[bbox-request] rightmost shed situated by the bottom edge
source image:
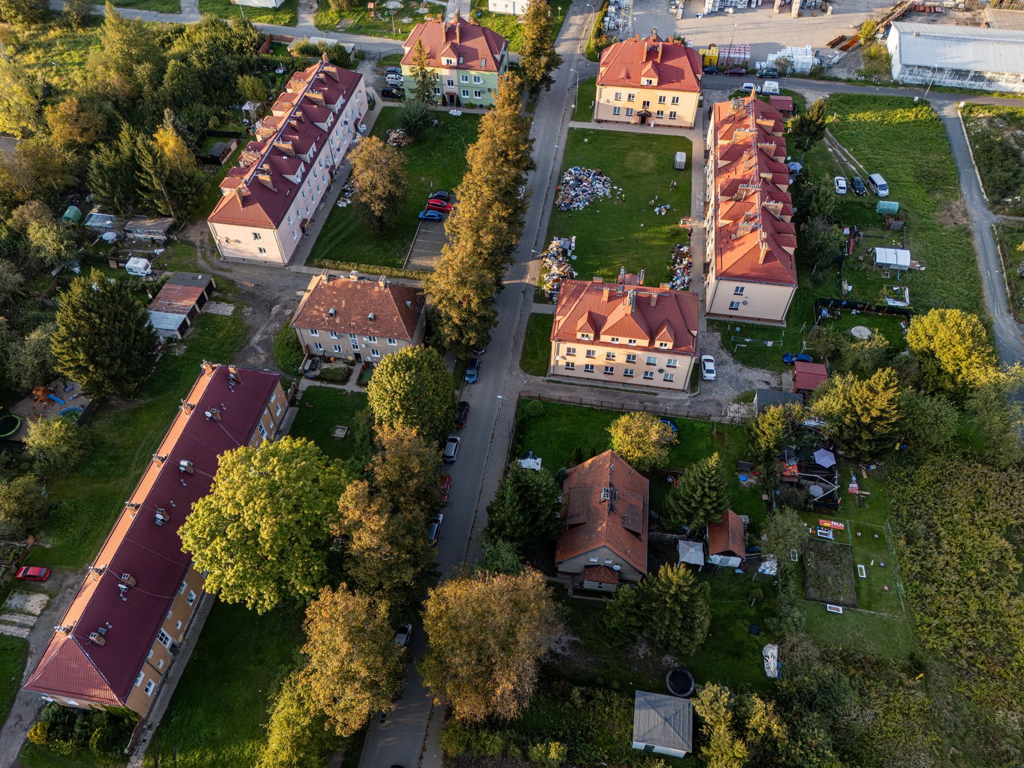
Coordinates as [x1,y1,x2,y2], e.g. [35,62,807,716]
[631,688,693,760]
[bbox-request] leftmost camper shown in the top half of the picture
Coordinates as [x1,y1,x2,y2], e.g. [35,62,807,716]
[121,255,158,276]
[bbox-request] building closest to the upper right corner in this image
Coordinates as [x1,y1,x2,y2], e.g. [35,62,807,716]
[885,28,1024,94]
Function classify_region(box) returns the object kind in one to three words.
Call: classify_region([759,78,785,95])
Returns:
camper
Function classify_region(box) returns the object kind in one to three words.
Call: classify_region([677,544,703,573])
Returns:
gazebo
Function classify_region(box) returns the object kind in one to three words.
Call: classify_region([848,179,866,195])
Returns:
car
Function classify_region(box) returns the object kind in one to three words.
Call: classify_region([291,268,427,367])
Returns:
house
